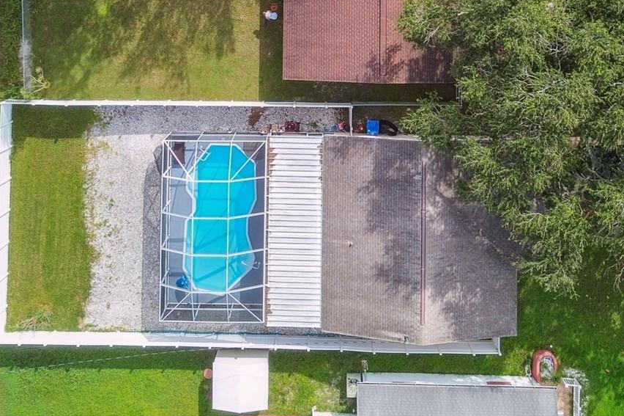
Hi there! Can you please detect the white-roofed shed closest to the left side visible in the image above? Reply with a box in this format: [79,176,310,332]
[213,348,269,414]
